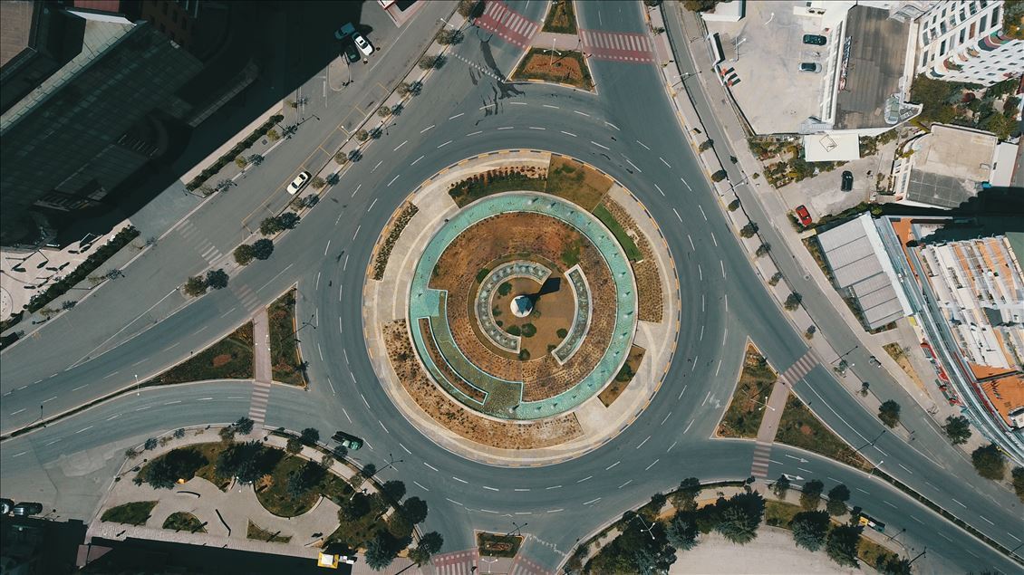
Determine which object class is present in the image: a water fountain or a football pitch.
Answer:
water fountain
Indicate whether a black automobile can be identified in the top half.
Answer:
Yes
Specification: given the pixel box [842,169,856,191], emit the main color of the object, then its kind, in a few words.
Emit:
black car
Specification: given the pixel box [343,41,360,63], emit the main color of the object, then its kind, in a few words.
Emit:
black car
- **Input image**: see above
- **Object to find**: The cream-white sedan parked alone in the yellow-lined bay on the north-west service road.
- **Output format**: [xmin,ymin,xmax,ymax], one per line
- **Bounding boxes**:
[287,169,307,194]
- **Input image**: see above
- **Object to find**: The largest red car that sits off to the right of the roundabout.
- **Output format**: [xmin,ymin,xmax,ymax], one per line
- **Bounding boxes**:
[796,203,814,227]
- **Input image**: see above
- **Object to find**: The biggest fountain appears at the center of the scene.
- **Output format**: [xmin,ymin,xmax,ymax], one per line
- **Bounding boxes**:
[406,189,640,423]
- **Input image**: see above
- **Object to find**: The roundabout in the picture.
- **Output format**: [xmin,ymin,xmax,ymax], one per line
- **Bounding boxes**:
[298,84,745,532]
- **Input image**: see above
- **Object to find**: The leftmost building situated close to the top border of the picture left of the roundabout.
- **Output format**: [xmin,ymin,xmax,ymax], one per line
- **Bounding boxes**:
[0,0,203,219]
